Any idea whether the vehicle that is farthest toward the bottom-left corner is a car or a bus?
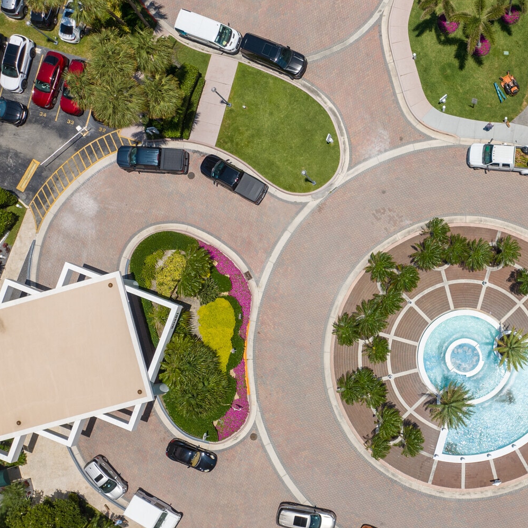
car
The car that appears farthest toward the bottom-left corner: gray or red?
gray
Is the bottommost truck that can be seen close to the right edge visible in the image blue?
No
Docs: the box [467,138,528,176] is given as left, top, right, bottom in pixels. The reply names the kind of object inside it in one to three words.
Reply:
truck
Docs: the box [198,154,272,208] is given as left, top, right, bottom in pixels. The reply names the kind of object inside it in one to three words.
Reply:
truck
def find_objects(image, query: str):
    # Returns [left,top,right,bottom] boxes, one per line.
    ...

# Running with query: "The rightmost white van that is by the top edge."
[179,11,244,54]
